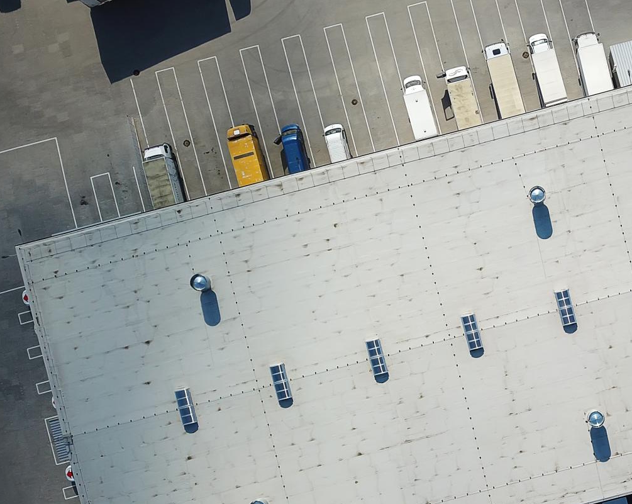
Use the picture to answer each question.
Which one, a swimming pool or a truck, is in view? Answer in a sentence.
Of the two, only a truck appears.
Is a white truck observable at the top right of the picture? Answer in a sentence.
Yes, there is a white truck at the top right of the picture.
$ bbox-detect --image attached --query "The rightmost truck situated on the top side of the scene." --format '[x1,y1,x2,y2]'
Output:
[571,31,614,97]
